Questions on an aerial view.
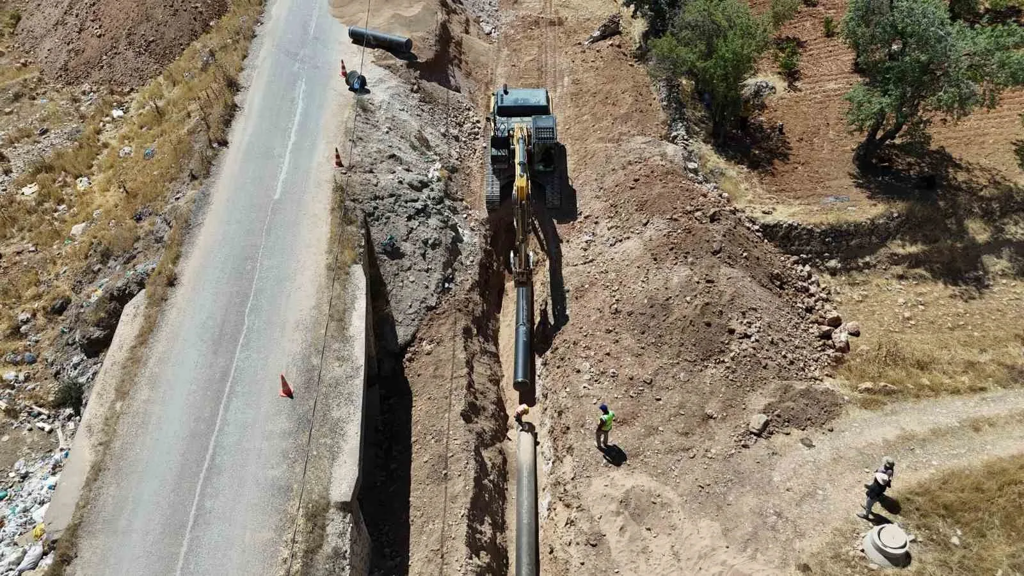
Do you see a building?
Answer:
No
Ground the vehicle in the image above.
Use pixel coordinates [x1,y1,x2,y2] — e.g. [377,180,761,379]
[482,79,563,280]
